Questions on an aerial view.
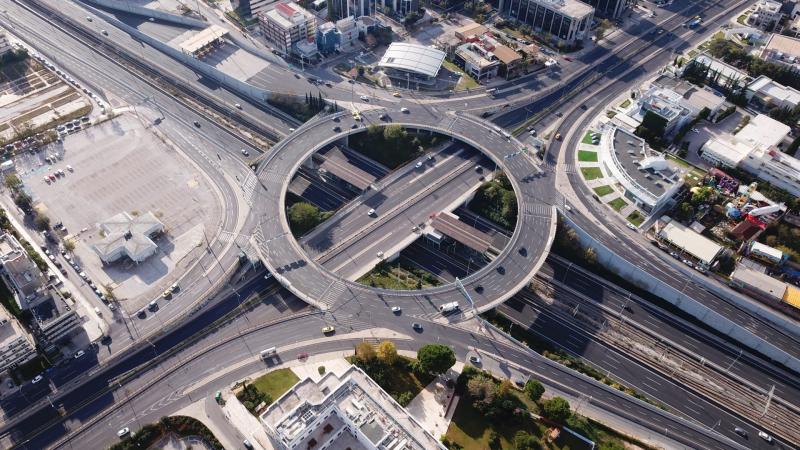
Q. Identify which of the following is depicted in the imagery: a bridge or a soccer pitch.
bridge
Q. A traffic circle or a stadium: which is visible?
traffic circle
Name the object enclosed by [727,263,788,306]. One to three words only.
shed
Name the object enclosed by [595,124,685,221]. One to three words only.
building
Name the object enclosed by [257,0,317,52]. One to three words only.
building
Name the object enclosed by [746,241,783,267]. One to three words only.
shed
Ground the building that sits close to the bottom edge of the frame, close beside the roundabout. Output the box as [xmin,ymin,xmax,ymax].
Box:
[259,364,451,450]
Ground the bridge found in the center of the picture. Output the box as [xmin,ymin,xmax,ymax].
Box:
[328,155,479,265]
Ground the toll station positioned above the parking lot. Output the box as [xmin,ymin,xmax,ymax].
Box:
[180,23,230,59]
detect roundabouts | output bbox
[249,105,555,325]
